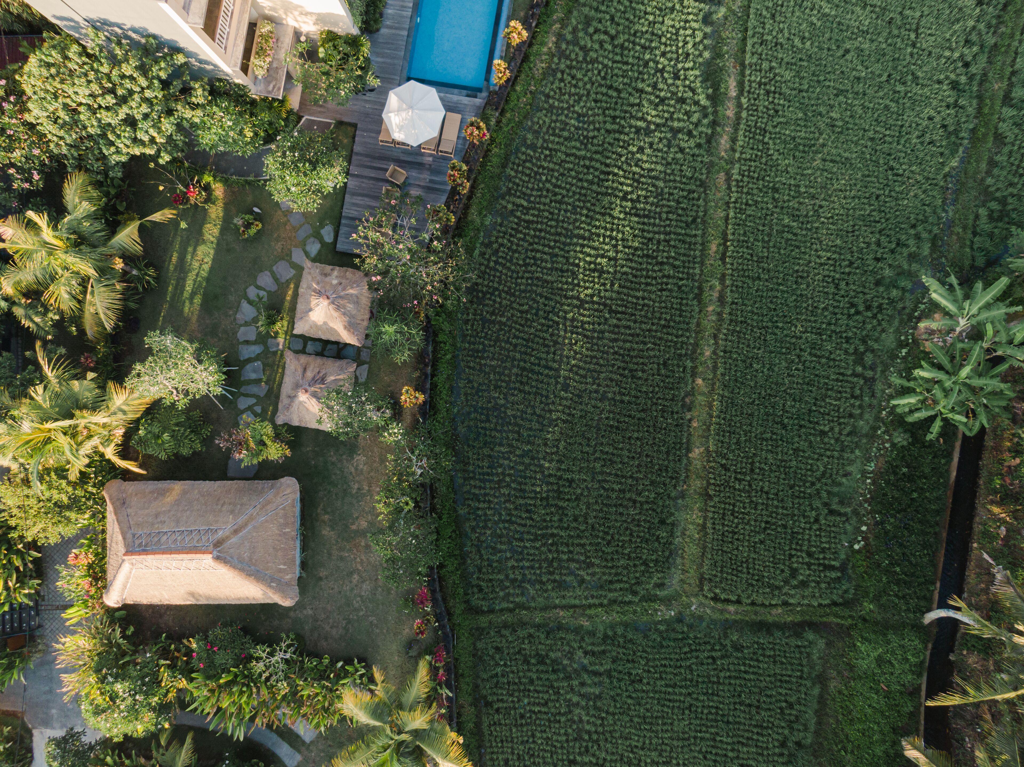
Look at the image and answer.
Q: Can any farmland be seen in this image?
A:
Yes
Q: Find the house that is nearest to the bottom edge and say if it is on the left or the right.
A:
left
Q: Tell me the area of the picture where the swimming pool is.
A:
top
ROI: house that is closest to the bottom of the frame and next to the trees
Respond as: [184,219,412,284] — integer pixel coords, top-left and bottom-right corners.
[102,477,304,608]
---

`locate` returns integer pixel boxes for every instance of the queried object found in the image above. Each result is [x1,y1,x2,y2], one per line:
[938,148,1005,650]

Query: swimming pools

[399,0,512,101]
